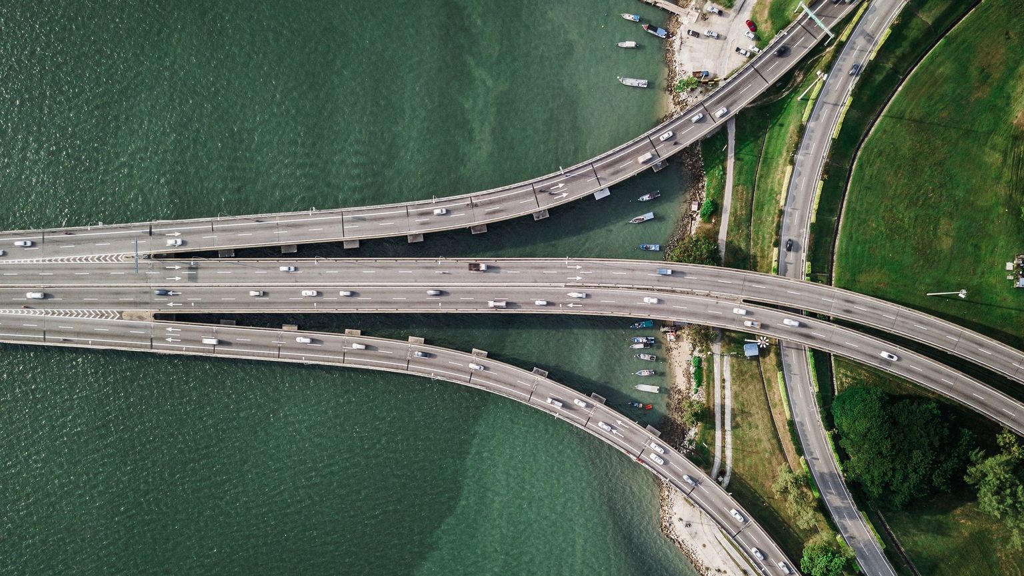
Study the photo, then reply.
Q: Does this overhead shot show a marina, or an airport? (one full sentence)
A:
The area seen from above is a marina.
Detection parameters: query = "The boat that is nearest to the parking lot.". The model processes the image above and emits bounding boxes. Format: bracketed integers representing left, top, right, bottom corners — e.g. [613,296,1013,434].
[643,24,668,37]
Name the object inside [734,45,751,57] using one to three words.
vehicle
